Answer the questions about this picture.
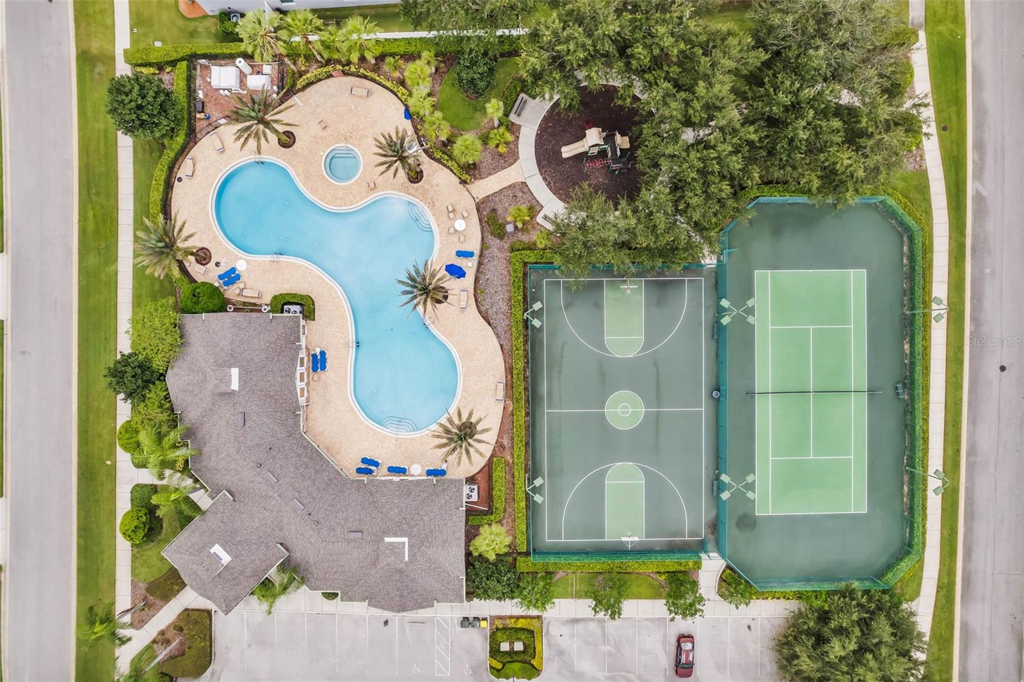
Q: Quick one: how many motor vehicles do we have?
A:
1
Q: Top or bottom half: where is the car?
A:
bottom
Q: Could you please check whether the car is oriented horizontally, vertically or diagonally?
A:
vertically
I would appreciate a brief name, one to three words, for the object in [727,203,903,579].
tennis court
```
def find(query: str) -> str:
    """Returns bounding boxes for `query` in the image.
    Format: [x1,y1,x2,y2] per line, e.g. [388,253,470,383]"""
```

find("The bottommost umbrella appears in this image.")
[442,261,464,279]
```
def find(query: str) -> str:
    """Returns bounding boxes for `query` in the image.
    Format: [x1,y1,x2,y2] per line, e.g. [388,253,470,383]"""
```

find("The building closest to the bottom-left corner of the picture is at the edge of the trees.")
[161,313,466,615]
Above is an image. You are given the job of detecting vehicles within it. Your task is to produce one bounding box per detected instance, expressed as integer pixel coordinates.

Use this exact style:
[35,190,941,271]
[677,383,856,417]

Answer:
[675,632,698,679]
